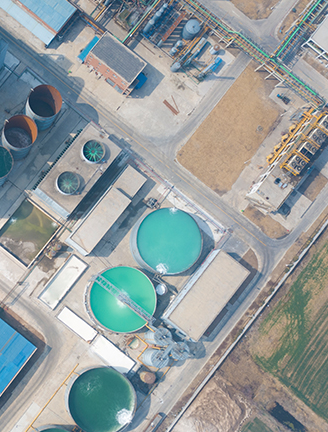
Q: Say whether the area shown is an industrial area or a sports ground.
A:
industrial area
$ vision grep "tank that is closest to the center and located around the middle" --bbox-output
[130,209,202,276]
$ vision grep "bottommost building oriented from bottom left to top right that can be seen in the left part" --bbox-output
[68,165,147,256]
